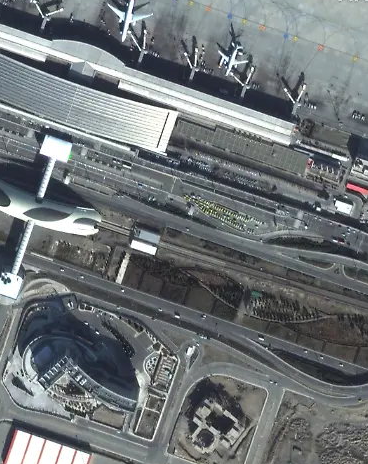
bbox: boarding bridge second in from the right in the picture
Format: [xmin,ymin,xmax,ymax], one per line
[229,64,254,97]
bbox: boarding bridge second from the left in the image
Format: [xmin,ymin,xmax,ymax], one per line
[127,28,148,61]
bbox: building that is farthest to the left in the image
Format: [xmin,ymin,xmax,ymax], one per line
[0,265,24,300]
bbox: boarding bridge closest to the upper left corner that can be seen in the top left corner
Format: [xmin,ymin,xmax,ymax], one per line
[33,0,65,30]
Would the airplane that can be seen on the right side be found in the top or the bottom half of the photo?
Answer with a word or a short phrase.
top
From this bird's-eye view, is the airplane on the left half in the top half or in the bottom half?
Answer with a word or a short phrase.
top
